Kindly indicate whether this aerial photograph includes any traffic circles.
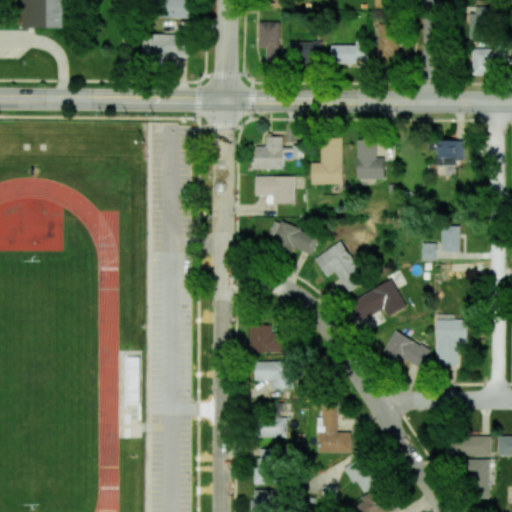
No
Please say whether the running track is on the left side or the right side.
left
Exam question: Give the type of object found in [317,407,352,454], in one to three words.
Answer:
house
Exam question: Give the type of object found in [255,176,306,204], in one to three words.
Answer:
house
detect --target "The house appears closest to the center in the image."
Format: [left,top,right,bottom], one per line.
[272,220,318,258]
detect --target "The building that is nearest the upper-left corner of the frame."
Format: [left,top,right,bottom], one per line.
[22,0,62,28]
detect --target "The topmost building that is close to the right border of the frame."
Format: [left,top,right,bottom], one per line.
[470,6,490,40]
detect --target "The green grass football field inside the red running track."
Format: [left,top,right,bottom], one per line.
[0,200,98,512]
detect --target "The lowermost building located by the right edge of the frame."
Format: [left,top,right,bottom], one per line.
[468,460,490,500]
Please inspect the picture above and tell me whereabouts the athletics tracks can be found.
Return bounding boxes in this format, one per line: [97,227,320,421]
[0,178,119,512]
